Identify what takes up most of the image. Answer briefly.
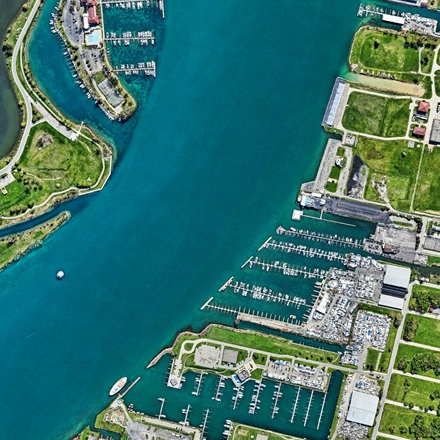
water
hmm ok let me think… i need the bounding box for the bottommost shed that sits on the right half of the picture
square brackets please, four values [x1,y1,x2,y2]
[346,390,380,428]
